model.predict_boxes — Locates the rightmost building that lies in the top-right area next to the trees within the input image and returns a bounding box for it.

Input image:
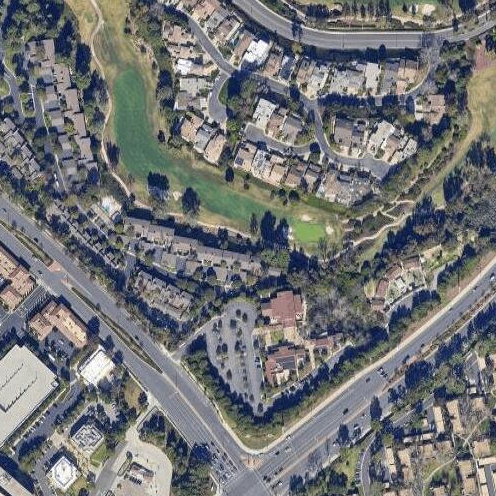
[417,97,444,120]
